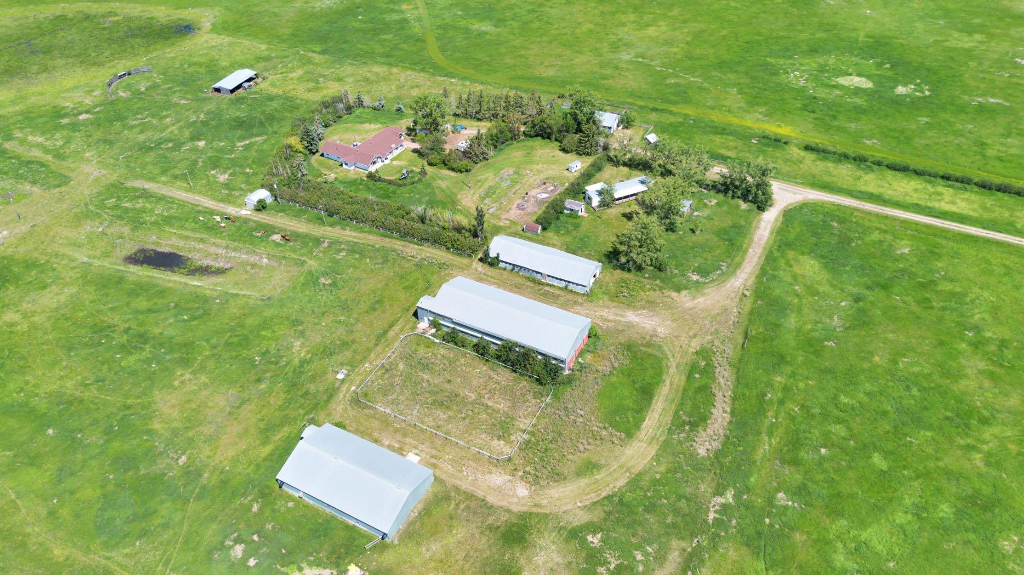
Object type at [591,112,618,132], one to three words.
shed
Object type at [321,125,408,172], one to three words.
house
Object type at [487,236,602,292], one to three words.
barn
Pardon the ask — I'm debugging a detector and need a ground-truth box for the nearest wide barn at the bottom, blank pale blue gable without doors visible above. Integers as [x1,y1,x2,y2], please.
[278,423,432,542]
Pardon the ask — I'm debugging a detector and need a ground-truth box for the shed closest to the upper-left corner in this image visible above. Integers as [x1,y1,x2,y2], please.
[213,69,257,95]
